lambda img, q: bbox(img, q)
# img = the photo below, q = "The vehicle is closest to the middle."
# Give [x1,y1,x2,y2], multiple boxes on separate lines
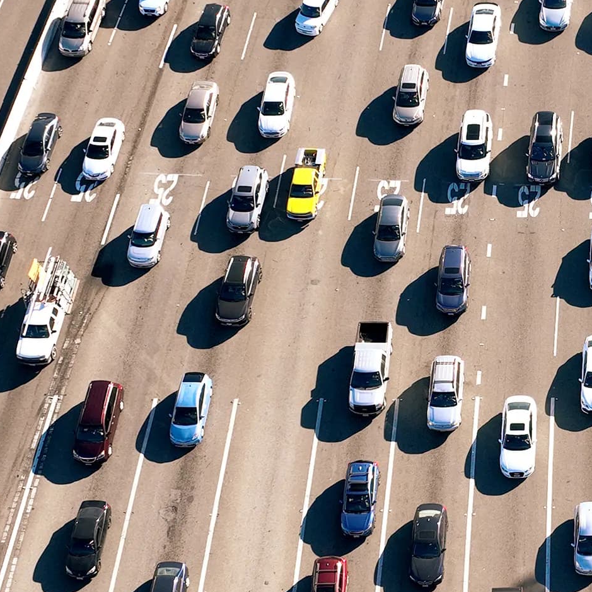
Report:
[214,255,261,328]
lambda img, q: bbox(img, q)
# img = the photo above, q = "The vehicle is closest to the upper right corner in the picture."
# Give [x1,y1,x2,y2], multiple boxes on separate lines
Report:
[538,0,571,33]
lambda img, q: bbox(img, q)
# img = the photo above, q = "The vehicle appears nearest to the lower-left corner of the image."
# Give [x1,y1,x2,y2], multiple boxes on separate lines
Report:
[61,496,115,583]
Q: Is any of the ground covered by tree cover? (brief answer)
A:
No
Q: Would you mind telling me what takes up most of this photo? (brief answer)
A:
paved ground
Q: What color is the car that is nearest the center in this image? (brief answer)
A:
black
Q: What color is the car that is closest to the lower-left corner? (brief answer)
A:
black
